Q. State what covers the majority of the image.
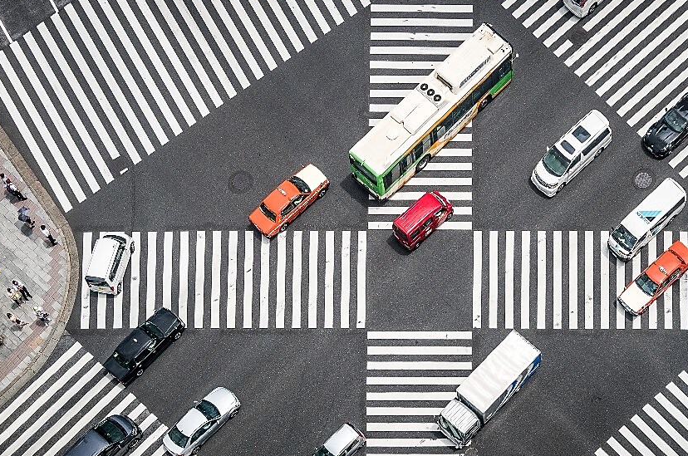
paved ground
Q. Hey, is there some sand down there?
No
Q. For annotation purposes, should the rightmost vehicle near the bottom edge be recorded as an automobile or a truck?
truck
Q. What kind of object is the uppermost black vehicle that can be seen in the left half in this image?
automobile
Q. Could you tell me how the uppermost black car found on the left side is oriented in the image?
at an angle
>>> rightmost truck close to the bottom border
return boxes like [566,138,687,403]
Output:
[430,328,541,452]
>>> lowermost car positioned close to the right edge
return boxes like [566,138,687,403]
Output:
[616,240,688,319]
